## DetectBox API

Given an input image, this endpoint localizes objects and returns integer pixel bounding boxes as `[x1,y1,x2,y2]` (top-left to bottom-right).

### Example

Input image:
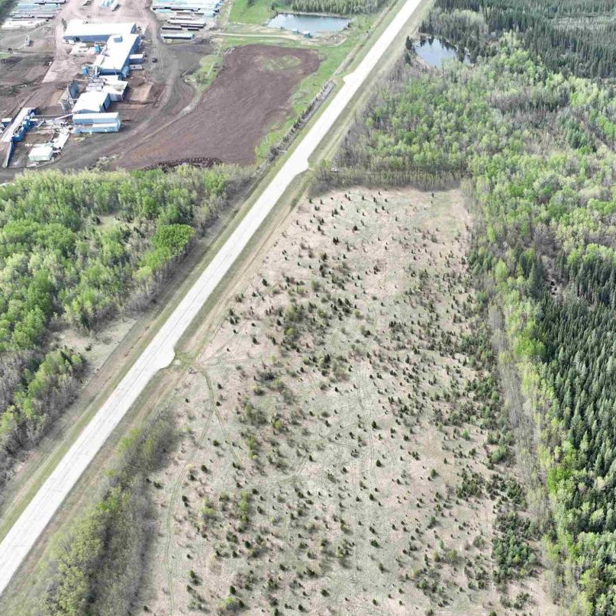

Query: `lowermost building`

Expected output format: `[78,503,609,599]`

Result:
[29,147,54,161]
